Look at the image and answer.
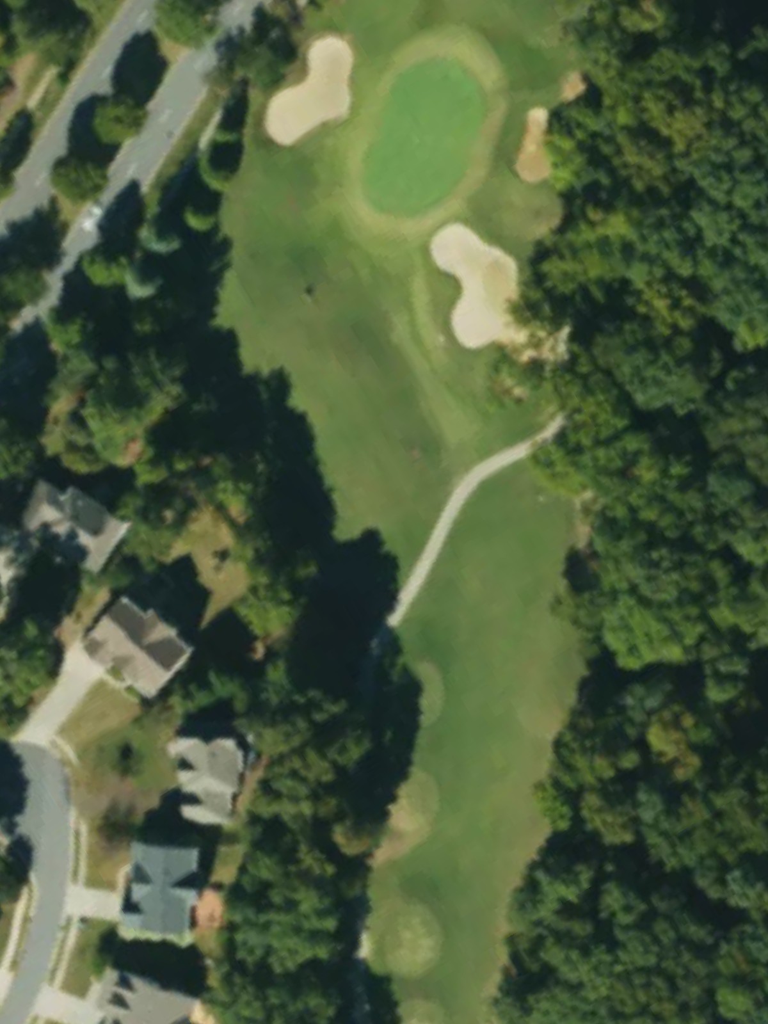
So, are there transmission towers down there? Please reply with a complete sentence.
No, there's no transmission tower here.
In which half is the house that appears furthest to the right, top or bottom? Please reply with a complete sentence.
The house that appears furthest to the right is in the bottom half of the image.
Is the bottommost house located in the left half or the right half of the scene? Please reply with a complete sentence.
The bottommost house sits on the left side.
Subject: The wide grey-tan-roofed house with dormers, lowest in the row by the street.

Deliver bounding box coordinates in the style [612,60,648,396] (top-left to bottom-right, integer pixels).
[83,964,201,1024]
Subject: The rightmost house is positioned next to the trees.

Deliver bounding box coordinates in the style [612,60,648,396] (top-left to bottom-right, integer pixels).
[168,735,243,824]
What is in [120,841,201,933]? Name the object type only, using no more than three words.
house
